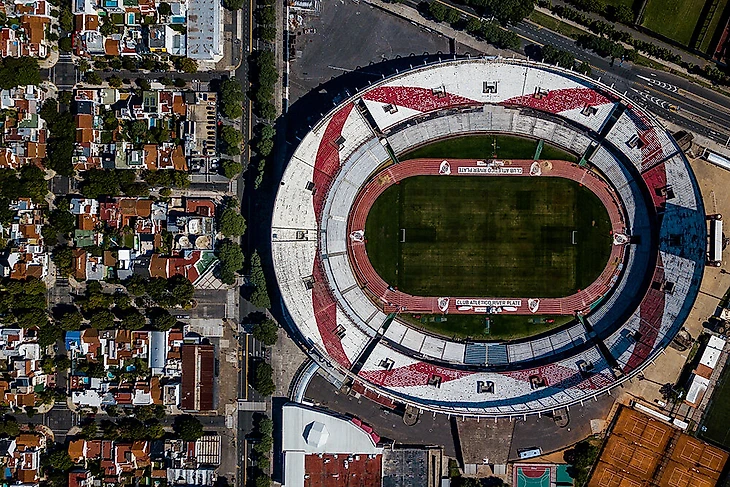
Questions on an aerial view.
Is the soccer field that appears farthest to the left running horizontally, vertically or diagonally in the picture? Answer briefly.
horizontally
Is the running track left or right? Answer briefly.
right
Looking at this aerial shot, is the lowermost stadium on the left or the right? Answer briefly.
right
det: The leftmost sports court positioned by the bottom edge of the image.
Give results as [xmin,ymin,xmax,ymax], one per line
[513,464,556,487]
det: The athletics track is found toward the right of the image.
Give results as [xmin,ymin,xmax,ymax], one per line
[350,160,627,314]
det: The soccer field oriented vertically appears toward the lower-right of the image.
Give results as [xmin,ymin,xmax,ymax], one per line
[700,352,730,444]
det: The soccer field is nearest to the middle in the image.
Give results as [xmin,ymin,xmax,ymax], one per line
[366,177,612,297]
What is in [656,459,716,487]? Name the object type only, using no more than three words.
tennis court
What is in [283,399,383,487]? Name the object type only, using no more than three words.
building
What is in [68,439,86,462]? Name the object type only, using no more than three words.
house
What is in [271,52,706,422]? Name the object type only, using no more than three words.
stadium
